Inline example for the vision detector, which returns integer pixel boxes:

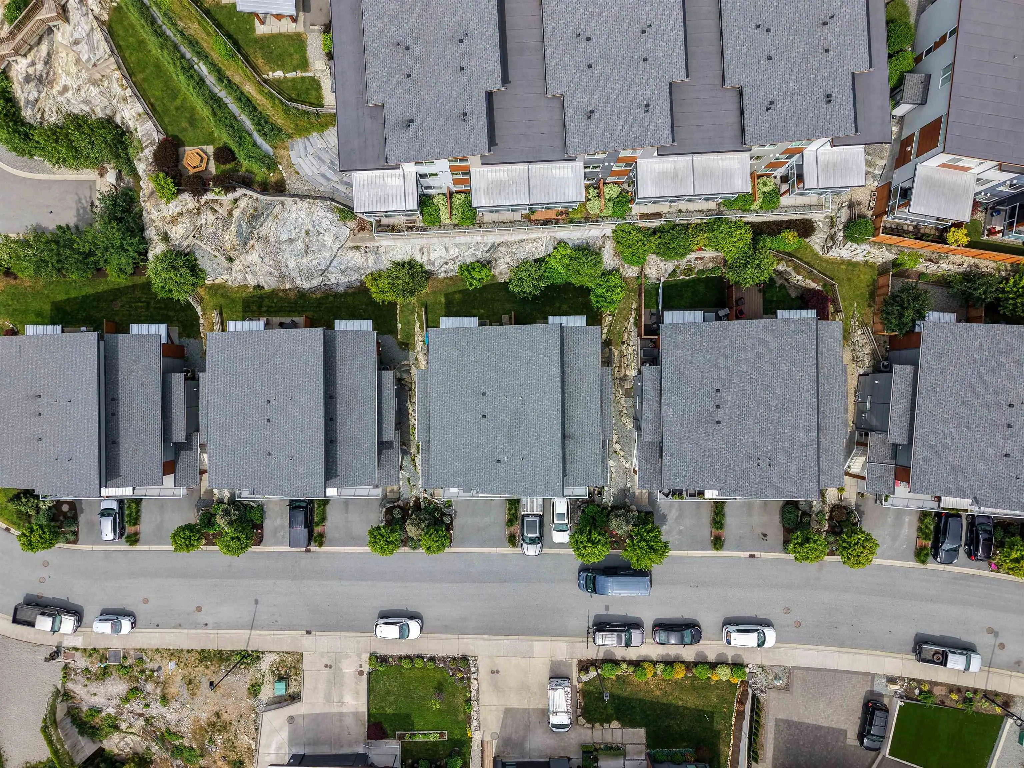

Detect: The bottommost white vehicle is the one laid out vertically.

[548,673,572,727]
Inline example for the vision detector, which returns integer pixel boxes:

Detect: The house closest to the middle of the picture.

[416,315,613,500]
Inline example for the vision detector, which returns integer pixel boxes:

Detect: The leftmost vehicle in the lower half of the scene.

[13,603,82,634]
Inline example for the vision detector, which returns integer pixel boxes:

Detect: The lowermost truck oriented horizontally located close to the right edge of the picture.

[913,640,976,672]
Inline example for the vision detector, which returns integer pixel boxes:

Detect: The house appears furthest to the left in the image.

[0,323,201,499]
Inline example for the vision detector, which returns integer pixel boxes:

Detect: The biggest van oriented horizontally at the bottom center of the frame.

[578,566,649,594]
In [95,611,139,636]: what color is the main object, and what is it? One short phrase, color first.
white car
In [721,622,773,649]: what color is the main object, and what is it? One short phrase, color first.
white car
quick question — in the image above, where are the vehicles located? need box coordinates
[929,512,962,564]
[520,498,544,551]
[100,497,127,542]
[375,615,423,641]
[721,622,773,649]
[548,673,572,727]
[13,603,82,634]
[593,621,642,648]
[95,611,139,636]
[549,497,572,544]
[856,696,887,748]
[578,566,649,594]
[913,640,976,672]
[651,621,699,647]
[289,497,315,549]
[961,513,993,562]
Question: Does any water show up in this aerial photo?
No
